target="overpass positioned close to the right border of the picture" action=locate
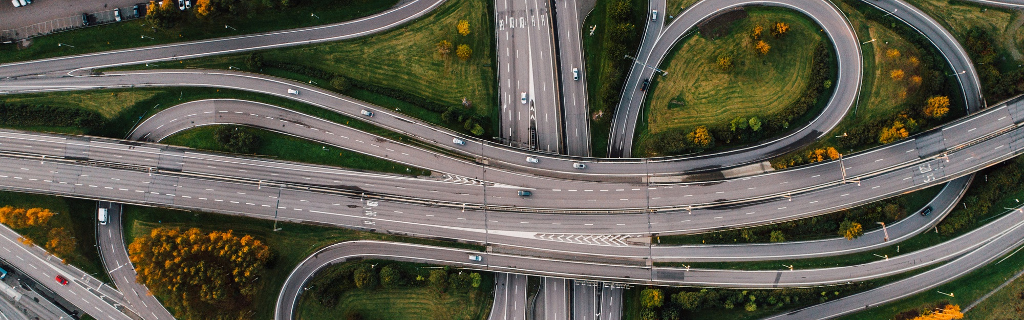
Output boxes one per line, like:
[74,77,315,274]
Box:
[889,99,1019,197]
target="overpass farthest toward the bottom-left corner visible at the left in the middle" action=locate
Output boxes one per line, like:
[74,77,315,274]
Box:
[29,132,196,212]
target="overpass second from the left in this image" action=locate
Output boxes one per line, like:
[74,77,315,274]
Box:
[483,139,652,285]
